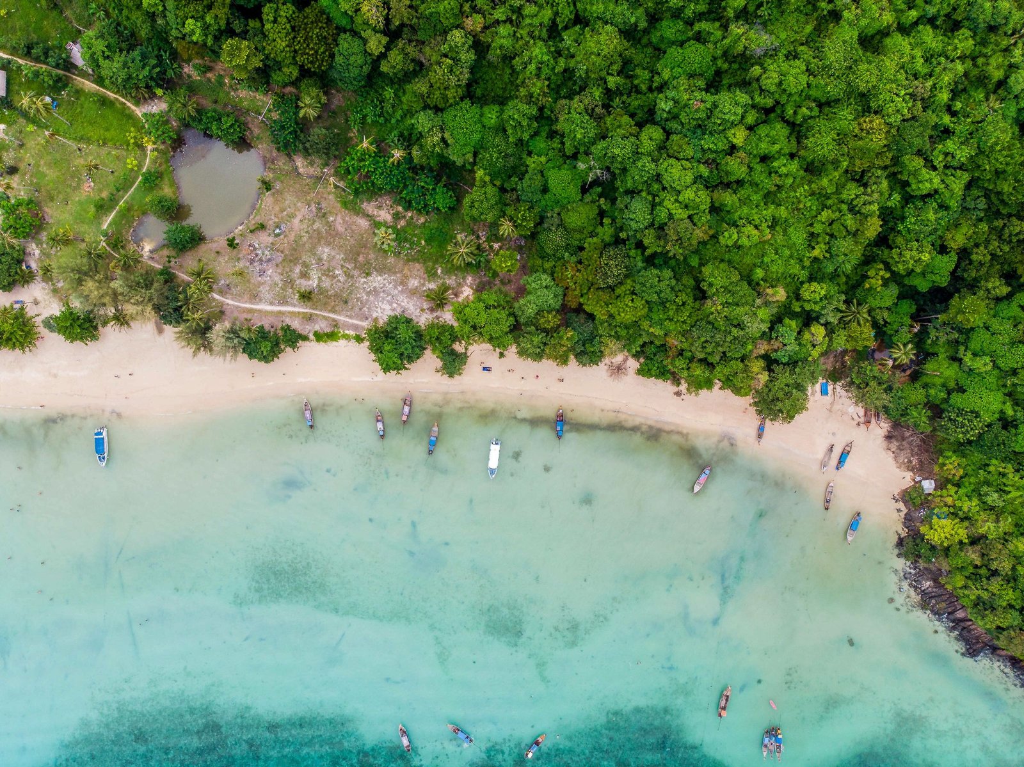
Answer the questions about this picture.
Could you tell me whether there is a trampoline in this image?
No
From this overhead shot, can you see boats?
Yes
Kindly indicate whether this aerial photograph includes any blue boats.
Yes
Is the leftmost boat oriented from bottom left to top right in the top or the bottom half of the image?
bottom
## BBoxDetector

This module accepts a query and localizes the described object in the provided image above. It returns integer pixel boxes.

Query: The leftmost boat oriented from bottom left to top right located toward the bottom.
[524,736,546,760]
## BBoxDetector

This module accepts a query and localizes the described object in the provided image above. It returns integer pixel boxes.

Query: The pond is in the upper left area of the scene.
[133,128,267,252]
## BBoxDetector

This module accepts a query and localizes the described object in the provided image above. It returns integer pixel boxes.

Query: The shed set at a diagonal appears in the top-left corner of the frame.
[66,43,91,68]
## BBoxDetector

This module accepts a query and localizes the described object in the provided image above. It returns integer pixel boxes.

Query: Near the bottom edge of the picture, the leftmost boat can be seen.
[398,725,415,761]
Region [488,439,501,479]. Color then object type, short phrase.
white boat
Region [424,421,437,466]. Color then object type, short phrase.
blue boat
